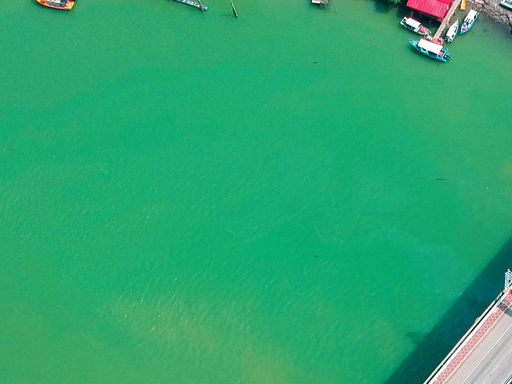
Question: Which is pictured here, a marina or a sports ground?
marina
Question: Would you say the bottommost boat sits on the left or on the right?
right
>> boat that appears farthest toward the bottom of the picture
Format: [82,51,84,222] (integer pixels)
[409,37,452,63]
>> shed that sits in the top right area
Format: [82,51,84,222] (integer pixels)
[406,0,455,26]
